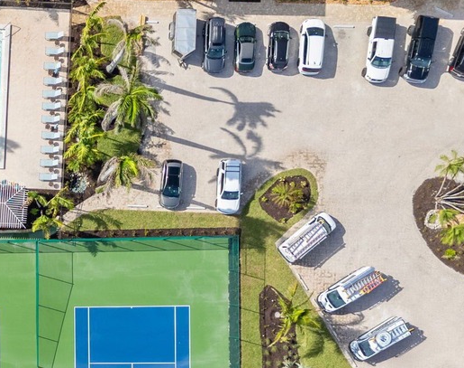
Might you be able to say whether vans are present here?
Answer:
Yes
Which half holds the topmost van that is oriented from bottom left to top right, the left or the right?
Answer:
right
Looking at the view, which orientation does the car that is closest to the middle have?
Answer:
from top to bottom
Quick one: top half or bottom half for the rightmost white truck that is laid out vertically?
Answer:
top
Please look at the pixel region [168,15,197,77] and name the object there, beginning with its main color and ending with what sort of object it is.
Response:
white trailer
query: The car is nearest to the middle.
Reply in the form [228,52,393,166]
[216,160,242,213]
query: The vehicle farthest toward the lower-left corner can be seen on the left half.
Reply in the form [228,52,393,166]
[159,159,184,210]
